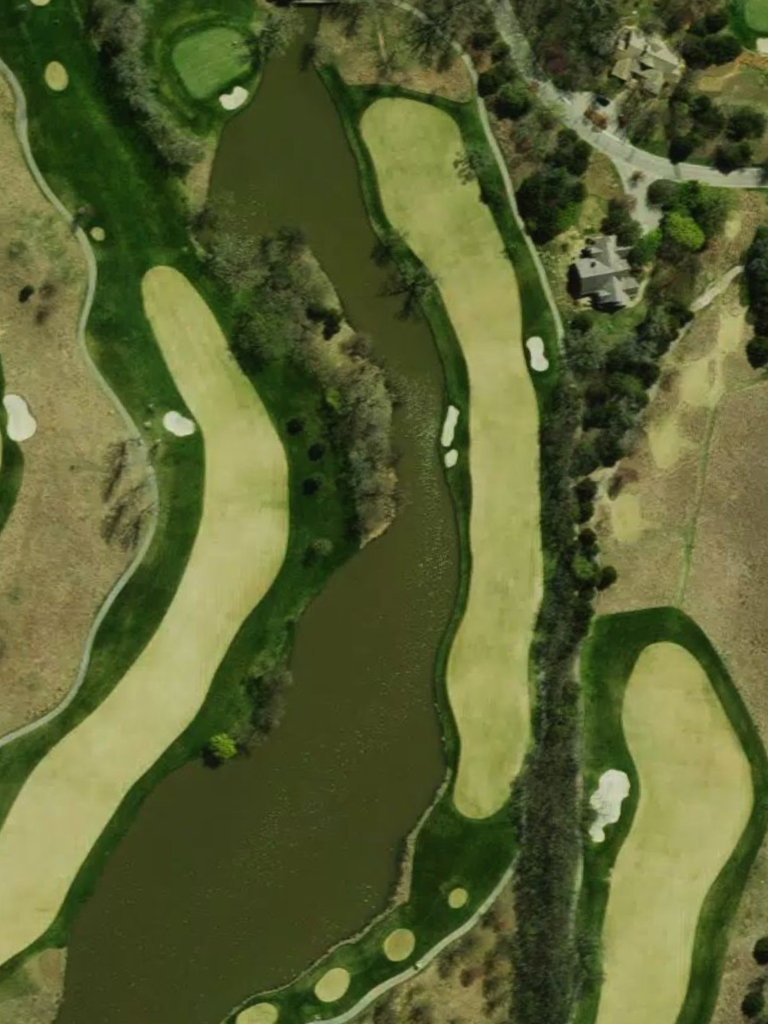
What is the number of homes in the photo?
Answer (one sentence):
My tally gives 2 homes in this view.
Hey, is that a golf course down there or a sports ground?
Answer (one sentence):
The picture captures a golf course.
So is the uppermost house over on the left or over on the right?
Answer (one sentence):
You can find the uppermost house on the right side of the picture.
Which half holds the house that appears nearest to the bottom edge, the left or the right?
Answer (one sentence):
The house that appears nearest to the bottom edge appears in the right half of the scene.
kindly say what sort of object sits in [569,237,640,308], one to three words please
house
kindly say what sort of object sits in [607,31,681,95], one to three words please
house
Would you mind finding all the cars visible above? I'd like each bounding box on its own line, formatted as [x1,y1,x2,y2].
[619,116,626,129]
[596,95,610,107]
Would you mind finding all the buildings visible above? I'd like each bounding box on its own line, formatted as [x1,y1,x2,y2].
[607,31,681,95]
[569,237,640,308]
